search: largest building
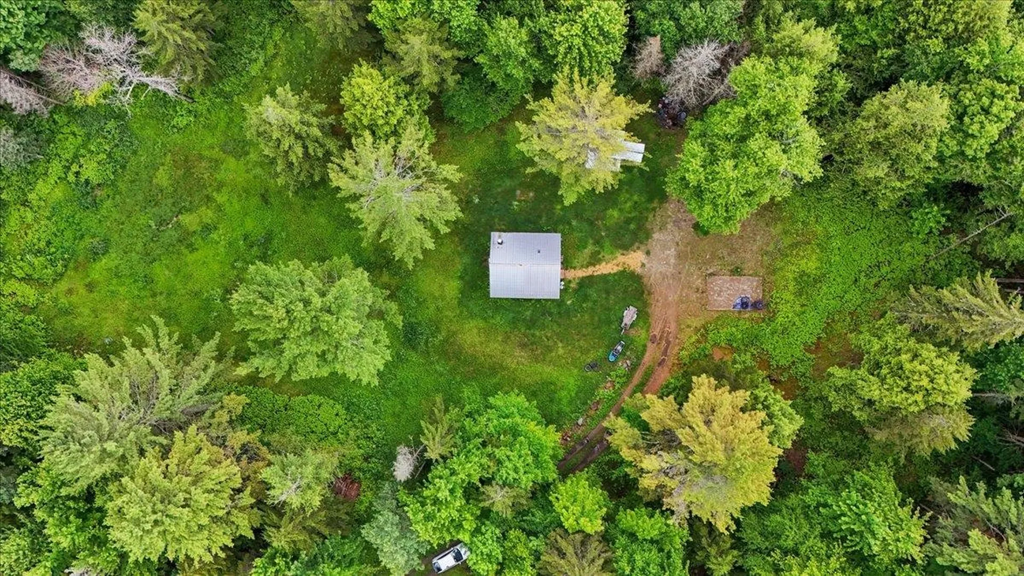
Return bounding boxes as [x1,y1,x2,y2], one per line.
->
[489,232,563,298]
